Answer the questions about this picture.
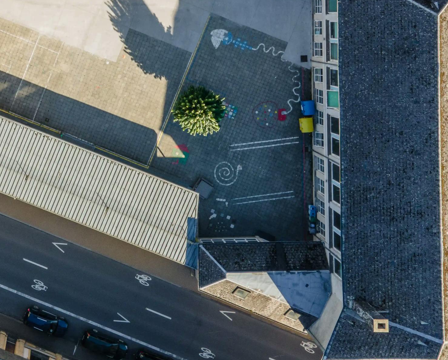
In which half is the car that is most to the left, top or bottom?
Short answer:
bottom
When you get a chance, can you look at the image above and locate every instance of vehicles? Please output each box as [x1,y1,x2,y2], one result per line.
[18,302,73,340]
[130,345,177,360]
[77,326,133,360]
